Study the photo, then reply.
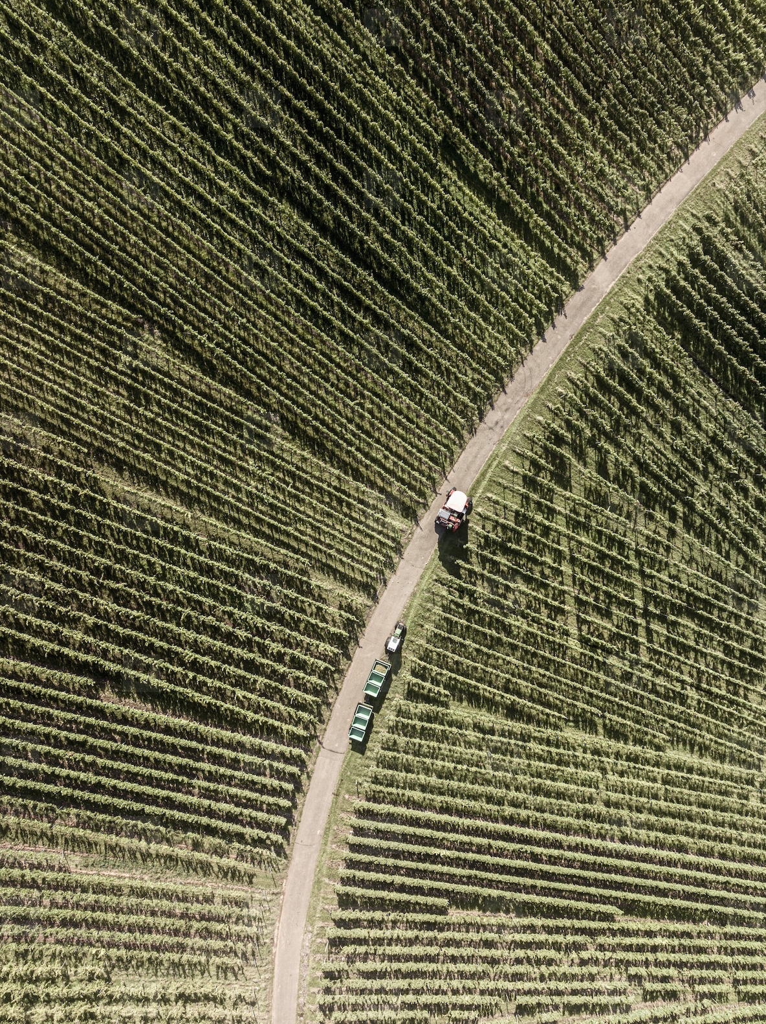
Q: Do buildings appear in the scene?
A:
No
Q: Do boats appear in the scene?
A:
No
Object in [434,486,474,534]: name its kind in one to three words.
work vehicle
